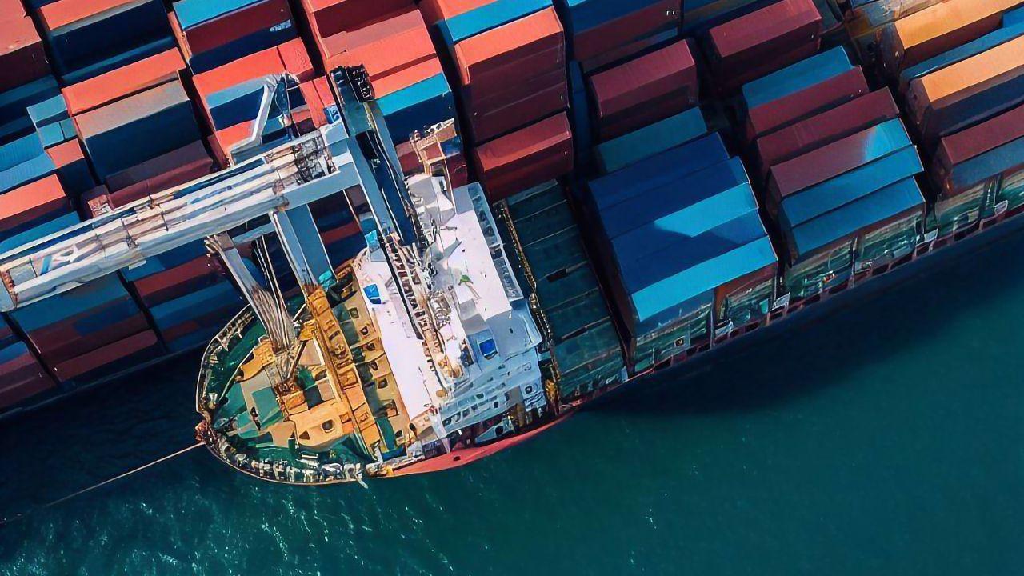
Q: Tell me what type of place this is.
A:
port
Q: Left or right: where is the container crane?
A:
left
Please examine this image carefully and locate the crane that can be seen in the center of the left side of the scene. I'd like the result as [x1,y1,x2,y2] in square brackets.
[0,45,464,472]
